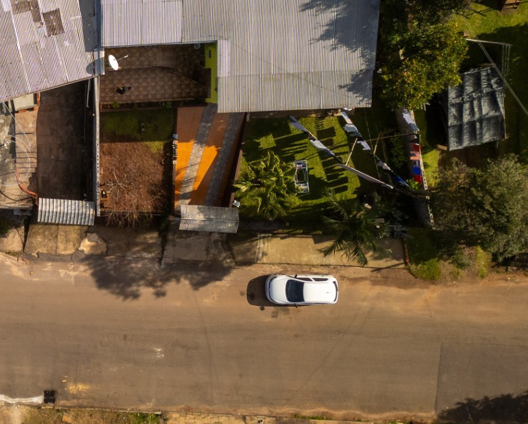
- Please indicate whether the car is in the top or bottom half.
bottom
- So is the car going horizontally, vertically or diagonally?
horizontally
